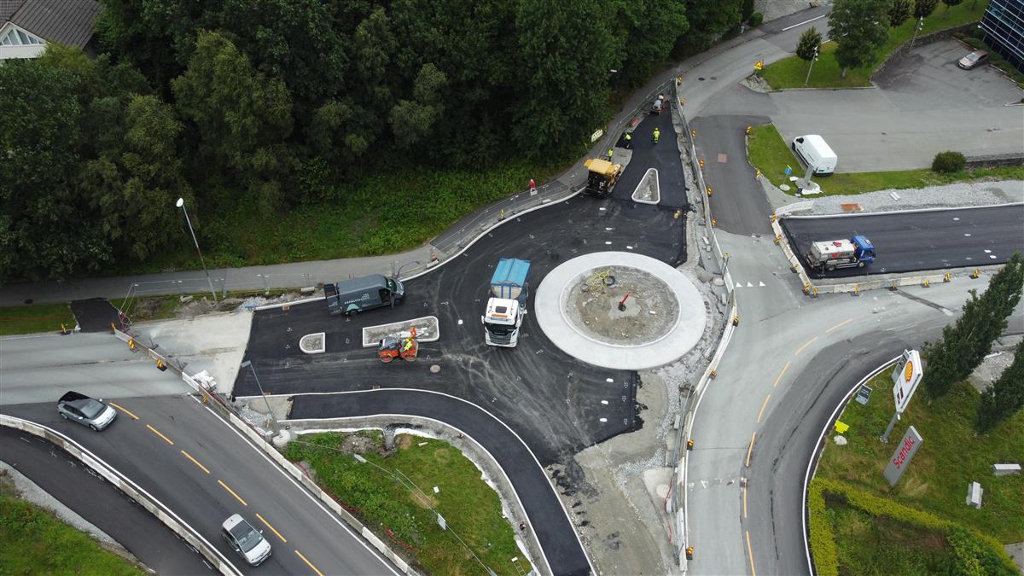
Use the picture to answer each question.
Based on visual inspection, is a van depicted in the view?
Yes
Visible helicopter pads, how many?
0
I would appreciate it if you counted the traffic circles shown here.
1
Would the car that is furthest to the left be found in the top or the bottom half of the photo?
bottom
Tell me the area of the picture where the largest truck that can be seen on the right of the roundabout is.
right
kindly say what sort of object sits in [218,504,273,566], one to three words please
car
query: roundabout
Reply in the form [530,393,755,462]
[535,251,707,371]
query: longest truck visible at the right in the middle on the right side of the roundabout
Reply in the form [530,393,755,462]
[804,227,881,270]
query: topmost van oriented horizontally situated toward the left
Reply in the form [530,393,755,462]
[326,272,408,314]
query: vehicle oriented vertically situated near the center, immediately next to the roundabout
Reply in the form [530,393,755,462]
[481,257,530,349]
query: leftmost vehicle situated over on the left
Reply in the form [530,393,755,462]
[53,391,115,432]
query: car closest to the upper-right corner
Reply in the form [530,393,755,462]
[954,49,991,68]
